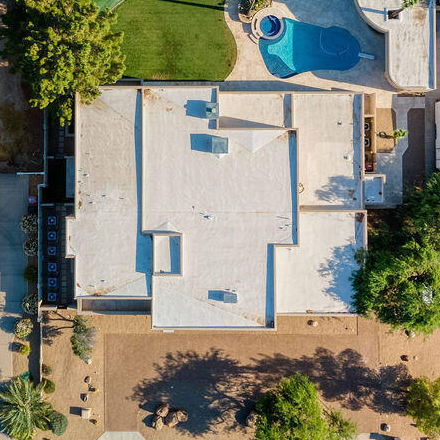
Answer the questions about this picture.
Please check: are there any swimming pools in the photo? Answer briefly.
Yes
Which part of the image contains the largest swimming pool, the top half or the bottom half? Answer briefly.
top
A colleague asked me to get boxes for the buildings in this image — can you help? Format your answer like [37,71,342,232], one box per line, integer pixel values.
[351,0,436,91]
[65,86,385,334]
